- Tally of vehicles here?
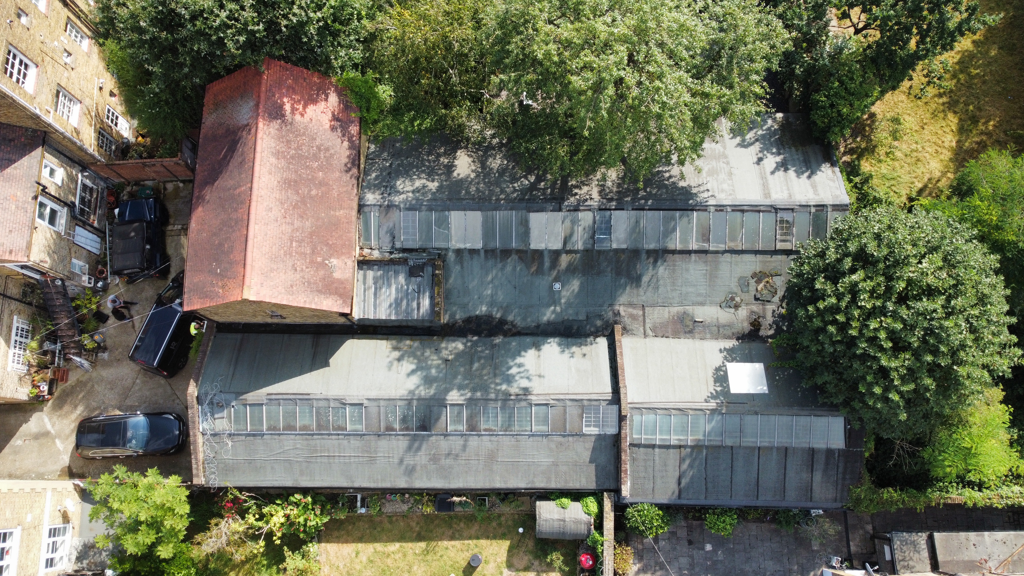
3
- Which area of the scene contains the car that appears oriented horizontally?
bottom left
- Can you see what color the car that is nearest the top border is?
black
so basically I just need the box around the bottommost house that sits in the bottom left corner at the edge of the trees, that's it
[0,481,85,576]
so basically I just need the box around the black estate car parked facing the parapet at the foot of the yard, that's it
[71,410,189,461]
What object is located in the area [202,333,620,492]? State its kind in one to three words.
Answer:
building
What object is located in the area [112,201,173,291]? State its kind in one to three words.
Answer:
car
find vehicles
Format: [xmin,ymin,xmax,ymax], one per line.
[112,201,173,291]
[126,260,206,377]
[71,410,189,461]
